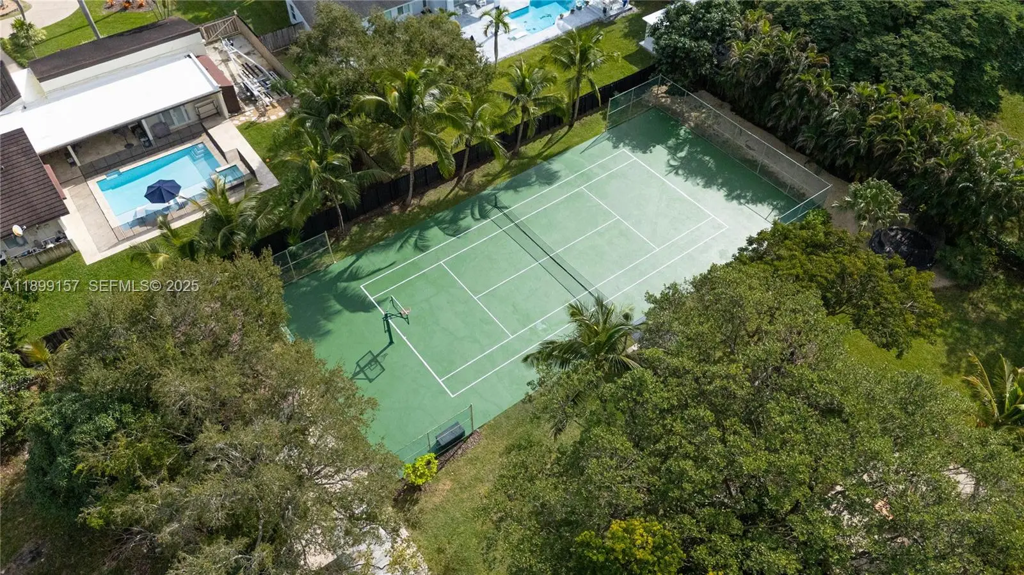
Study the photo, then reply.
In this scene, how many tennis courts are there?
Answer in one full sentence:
In total, there is 1 tennis court in the scene.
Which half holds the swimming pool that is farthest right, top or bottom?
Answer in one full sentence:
The swimming pool that is farthest right sits in the top half of the picture.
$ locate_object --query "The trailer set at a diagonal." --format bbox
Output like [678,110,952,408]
[218,36,293,100]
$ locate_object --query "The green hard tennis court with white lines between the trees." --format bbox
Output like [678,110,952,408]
[278,106,808,464]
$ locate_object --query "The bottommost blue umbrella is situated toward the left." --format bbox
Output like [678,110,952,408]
[145,177,185,209]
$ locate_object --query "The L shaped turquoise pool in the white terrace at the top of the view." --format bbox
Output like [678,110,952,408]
[507,0,579,38]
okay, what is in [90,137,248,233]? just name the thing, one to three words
swimming pool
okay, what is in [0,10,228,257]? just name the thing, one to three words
house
